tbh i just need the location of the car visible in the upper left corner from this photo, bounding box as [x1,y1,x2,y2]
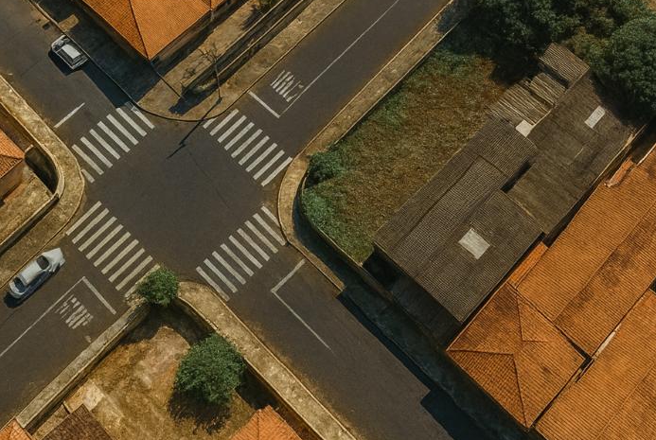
[48,35,88,74]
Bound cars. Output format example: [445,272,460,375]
[1,248,64,304]
[48,35,88,74]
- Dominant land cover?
paved ground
